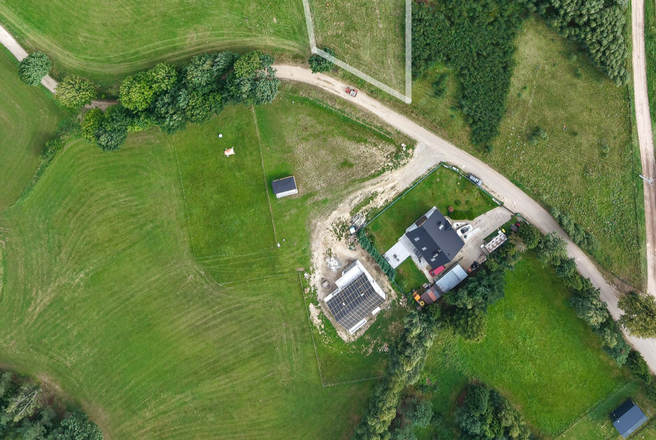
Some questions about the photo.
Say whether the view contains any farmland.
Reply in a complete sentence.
Yes, there's farmland in this view.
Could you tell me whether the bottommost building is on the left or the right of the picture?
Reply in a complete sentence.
The bottommost building sits on the right side.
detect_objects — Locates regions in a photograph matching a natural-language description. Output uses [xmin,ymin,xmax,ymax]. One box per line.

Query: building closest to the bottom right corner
[606,393,649,439]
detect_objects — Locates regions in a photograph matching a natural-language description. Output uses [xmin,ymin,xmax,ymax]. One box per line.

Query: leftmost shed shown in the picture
[272,175,298,196]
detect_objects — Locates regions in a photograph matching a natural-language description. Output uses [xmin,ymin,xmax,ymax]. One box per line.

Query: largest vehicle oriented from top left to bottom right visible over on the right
[467,173,484,187]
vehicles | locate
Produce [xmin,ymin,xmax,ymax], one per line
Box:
[456,223,473,237]
[429,266,445,277]
[346,87,356,97]
[412,290,420,300]
[467,173,484,187]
